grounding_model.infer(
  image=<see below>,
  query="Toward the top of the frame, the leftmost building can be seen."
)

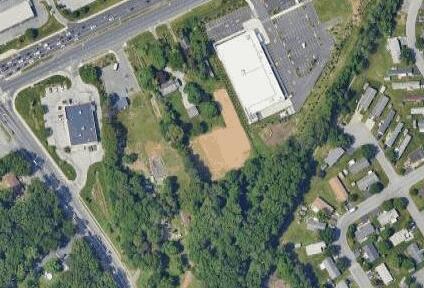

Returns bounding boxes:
[0,1,33,31]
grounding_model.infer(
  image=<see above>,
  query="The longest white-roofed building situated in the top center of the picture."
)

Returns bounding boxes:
[213,26,287,123]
